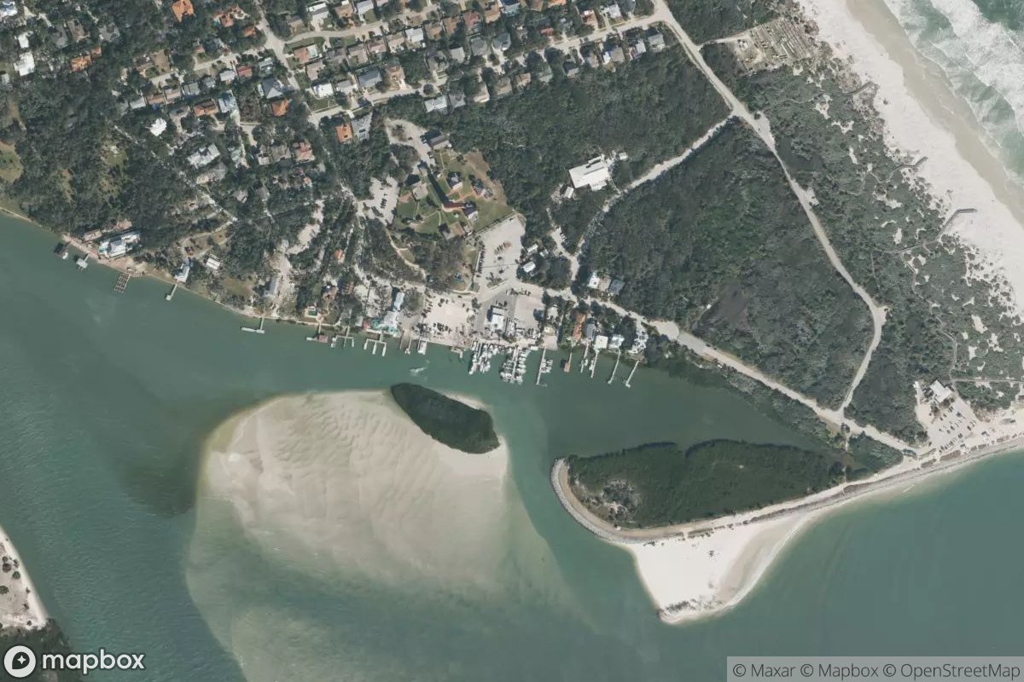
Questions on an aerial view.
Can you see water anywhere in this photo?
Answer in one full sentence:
Yes, there's water in this view.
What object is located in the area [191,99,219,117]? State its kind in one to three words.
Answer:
house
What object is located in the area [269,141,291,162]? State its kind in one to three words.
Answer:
house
